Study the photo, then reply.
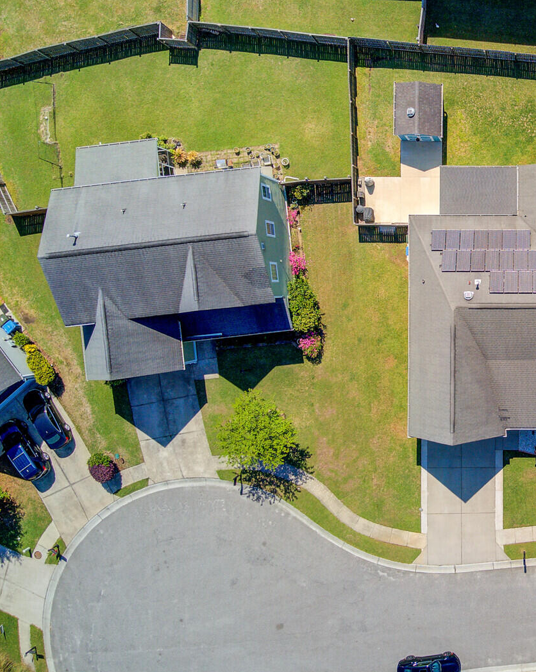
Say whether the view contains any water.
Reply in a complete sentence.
No, the picture contains no water.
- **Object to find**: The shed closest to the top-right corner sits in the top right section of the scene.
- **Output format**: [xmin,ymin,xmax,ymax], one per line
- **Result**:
[393,79,443,142]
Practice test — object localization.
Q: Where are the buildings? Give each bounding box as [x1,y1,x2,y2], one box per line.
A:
[408,164,536,446]
[0,325,42,407]
[35,140,300,382]
[393,79,443,142]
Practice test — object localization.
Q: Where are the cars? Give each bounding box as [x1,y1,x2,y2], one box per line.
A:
[397,651,461,672]
[0,418,49,483]
[20,386,71,450]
